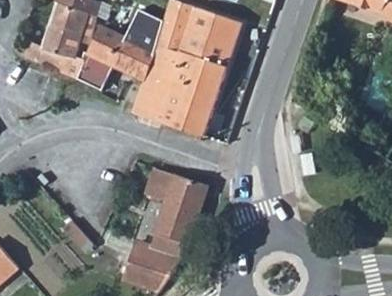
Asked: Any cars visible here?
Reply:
Yes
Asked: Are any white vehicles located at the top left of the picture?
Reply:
Yes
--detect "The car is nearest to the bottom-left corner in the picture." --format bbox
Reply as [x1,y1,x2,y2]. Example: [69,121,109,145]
[98,169,118,181]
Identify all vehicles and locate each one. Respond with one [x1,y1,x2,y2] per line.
[237,255,248,275]
[5,64,22,85]
[0,0,6,19]
[98,169,118,181]
[270,199,288,220]
[238,176,249,198]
